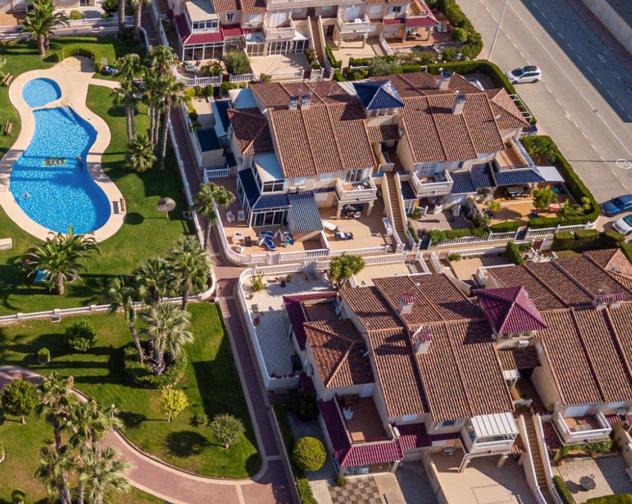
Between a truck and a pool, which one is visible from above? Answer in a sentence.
Visible in the photo is a pool.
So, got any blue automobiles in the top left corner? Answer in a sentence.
No, I can find no blue automobile in the top left corner.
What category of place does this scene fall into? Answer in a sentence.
This looks like a residential area.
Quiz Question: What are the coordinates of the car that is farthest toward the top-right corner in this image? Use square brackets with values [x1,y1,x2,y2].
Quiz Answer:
[507,67,547,85]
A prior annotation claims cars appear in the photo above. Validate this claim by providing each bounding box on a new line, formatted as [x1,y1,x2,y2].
[603,196,632,218]
[614,213,632,234]
[507,67,547,85]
